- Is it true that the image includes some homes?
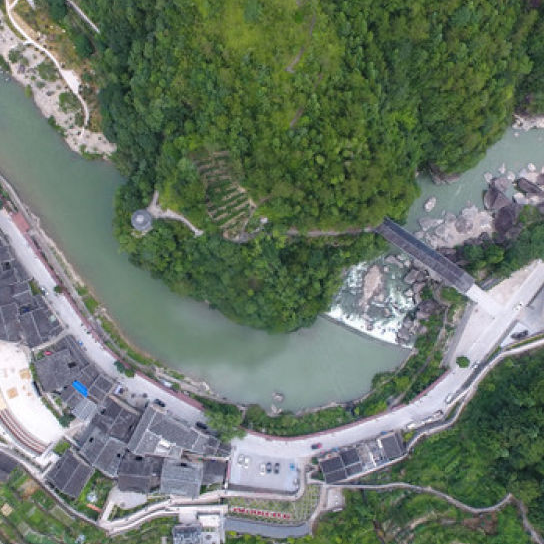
Yes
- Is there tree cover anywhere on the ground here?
Yes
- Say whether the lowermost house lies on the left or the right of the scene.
left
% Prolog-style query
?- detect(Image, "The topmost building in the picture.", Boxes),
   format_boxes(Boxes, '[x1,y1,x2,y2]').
[130,210,154,233]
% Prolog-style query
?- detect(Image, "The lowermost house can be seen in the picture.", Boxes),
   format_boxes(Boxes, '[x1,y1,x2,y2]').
[173,523,203,544]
